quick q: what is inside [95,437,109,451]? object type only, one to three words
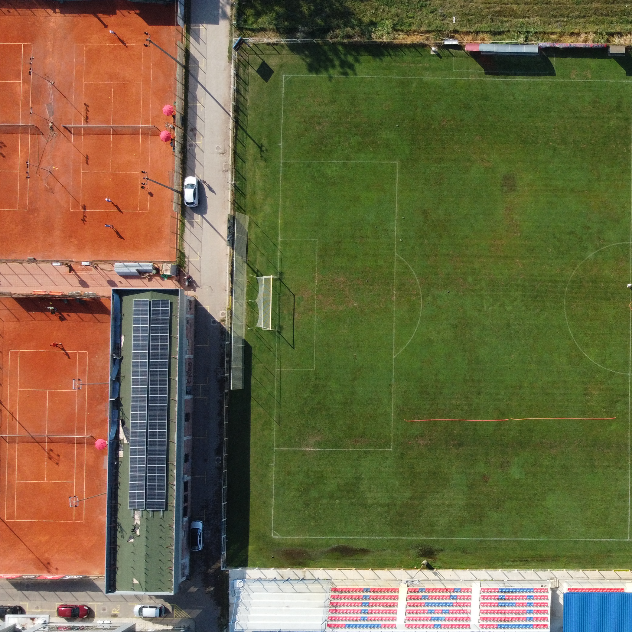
umbrella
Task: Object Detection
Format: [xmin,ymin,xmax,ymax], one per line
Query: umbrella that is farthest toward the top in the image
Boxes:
[162,104,176,118]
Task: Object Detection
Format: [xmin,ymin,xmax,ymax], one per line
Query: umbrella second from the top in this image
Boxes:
[159,130,175,143]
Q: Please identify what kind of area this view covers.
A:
sports ground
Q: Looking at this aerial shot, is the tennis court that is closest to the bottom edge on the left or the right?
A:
left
